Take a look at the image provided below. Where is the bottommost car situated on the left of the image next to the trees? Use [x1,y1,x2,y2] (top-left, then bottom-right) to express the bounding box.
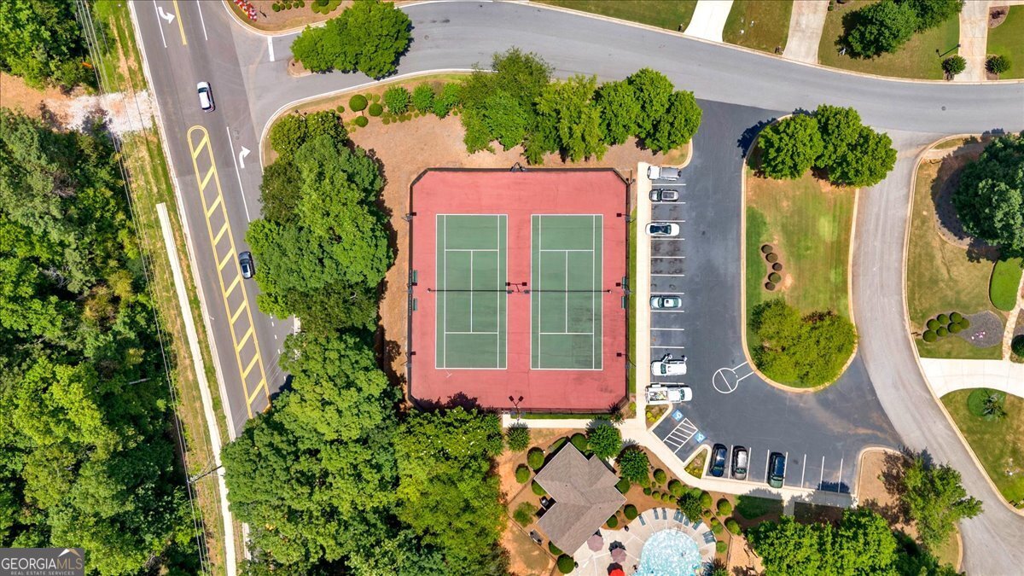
[238,250,257,280]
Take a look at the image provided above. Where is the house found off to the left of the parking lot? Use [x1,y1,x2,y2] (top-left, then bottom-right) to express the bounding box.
[534,442,627,556]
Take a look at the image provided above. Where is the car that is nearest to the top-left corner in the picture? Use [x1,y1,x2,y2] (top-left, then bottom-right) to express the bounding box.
[197,82,216,112]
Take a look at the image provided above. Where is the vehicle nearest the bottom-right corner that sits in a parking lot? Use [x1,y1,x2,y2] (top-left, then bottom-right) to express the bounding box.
[768,453,786,486]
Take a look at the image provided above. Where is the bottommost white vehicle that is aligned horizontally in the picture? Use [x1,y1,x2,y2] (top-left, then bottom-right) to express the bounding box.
[645,385,693,402]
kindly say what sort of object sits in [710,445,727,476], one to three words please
car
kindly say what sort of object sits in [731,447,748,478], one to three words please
car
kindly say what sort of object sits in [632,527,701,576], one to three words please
swimming pool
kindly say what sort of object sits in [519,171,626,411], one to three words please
tennis court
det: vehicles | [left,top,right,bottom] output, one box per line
[197,82,216,112]
[652,356,687,376]
[238,250,257,280]
[731,447,748,478]
[650,295,682,309]
[649,165,682,180]
[768,453,786,486]
[646,222,679,237]
[645,385,693,402]
[710,445,727,476]
[649,188,679,203]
